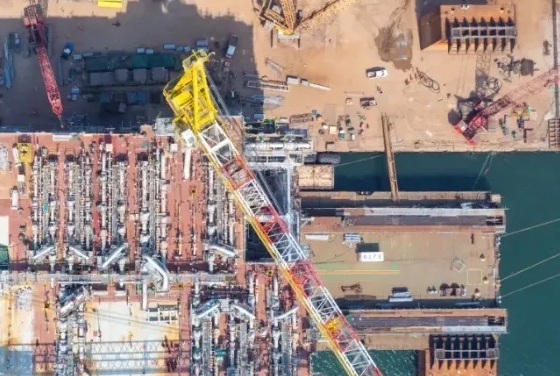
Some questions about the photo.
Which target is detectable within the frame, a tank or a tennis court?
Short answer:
tank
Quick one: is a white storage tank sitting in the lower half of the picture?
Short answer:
No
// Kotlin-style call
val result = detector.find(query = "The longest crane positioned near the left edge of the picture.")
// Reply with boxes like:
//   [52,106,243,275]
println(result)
[20,7,65,129]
